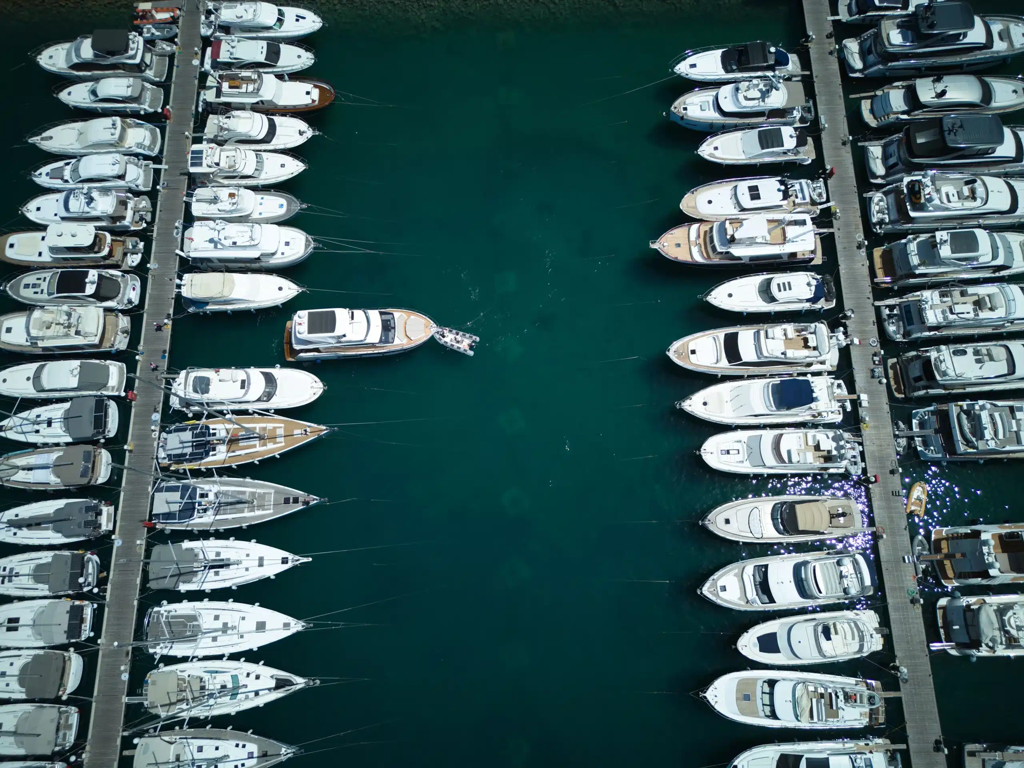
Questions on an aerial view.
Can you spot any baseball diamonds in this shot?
No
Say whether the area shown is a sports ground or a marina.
marina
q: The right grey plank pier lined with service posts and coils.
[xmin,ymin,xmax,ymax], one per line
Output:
[801,0,947,768]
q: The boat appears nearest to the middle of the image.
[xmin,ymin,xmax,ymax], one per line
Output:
[434,326,476,356]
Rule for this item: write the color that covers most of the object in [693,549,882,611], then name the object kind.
white boat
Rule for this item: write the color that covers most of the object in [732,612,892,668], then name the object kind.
white boat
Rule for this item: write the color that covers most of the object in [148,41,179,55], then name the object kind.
gray boat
